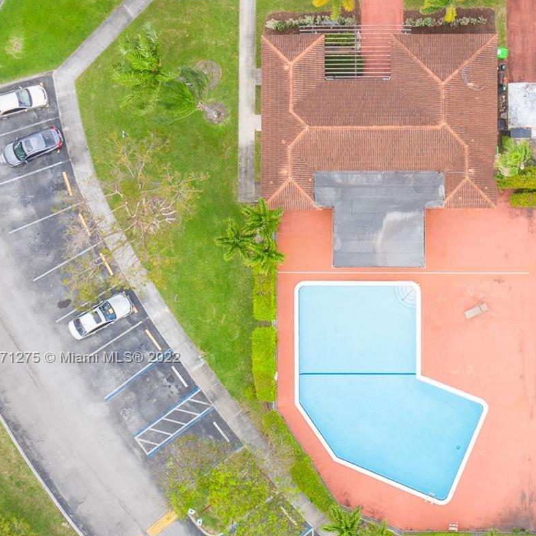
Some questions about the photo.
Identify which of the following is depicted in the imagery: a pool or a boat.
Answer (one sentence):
The one in the frame is a pool.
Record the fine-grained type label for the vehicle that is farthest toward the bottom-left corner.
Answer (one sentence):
I'd say the vehicle that is farthest toward the bottom-left corner is a car.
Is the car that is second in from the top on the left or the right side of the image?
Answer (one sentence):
The car that is second in from the top is on the left side of the image.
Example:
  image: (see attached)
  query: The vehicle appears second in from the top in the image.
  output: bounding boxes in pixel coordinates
[2,128,67,167]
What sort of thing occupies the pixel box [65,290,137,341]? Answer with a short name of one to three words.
car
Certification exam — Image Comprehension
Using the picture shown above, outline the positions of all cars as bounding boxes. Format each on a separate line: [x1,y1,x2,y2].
[2,128,67,167]
[0,83,51,119]
[65,290,137,341]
